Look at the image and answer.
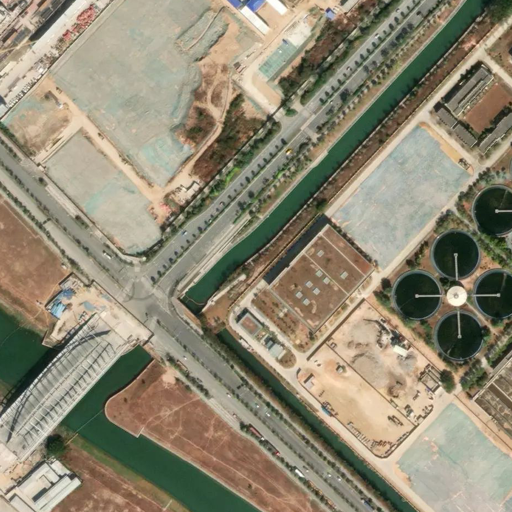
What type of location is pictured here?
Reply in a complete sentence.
It's an industrial area.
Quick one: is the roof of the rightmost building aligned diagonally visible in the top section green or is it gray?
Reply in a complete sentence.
From above, the roof of the rightmost building aligned diagonally visible in the top section appears gray.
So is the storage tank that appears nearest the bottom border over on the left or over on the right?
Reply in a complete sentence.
The storage tank that appears nearest the bottom border appears in the right half of the scene.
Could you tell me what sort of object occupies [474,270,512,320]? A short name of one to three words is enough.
storage tank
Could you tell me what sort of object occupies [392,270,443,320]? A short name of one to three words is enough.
storage tank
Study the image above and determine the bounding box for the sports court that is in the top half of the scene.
[259,37,301,79]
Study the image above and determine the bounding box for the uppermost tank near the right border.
[472,186,512,236]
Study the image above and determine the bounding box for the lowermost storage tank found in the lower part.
[434,310,484,360]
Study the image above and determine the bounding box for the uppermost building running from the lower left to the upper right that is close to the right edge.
[445,67,494,116]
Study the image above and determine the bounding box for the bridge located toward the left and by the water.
[0,312,129,462]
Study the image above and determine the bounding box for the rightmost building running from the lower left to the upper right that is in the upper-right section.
[480,115,512,154]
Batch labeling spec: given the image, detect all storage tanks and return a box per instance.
[392,270,443,320]
[431,230,481,280]
[472,186,512,236]
[434,310,484,360]
[474,270,512,320]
